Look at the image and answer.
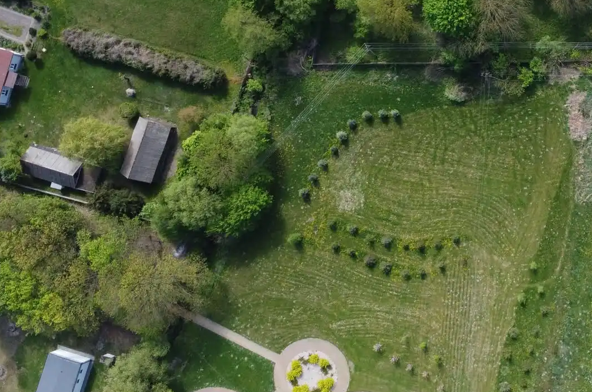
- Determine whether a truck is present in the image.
No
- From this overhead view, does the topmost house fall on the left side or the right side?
left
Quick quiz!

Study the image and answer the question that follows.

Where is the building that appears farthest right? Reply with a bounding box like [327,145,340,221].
[120,118,176,183]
